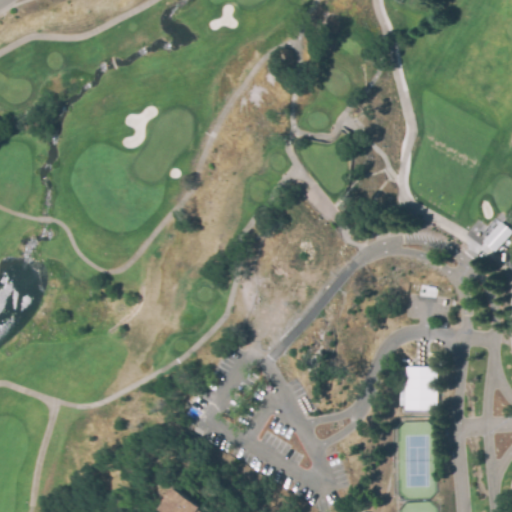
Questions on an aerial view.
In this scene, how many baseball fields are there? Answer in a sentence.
I count no baseball fields.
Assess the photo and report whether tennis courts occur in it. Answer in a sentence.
Yes, you can see a tennis court in this photo.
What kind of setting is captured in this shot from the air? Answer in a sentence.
The picture captures a golf course.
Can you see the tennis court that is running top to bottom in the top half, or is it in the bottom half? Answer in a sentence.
Seen from above, the tennis court that is running top to bottom lies in the bottom half of the view.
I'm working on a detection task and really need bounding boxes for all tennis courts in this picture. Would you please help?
[400,502,438,512]
[400,422,438,499]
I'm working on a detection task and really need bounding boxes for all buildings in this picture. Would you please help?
[154,488,198,512]
[400,366,438,412]
[480,219,512,252]
[421,284,439,299]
